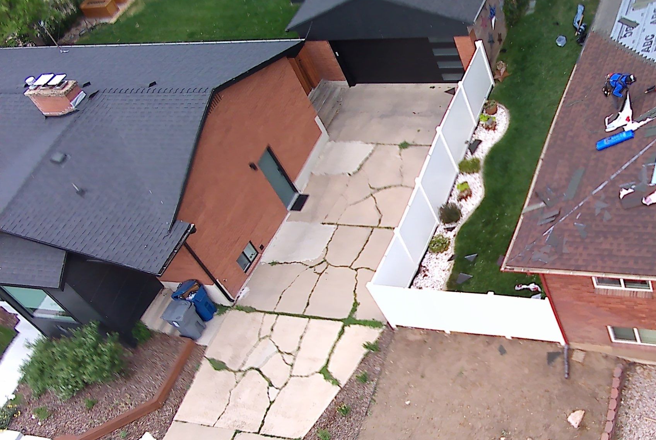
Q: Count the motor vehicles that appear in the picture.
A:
zero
